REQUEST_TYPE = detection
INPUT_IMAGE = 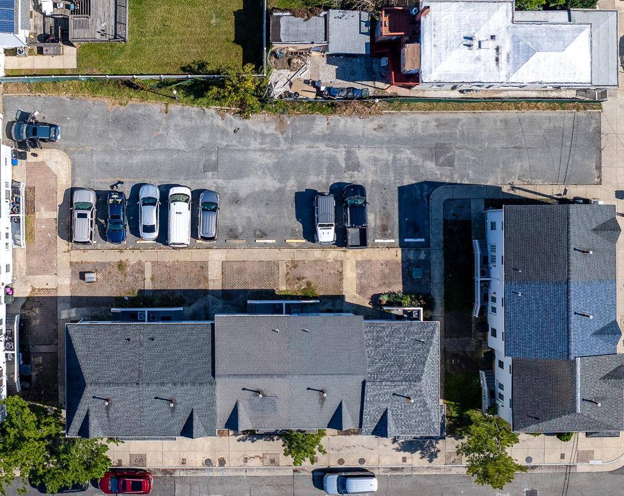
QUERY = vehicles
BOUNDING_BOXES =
[104,190,130,246]
[69,189,97,243]
[9,110,65,153]
[100,468,154,496]
[323,469,378,496]
[165,185,193,249]
[137,185,162,240]
[194,189,221,243]
[312,194,338,244]
[343,182,370,249]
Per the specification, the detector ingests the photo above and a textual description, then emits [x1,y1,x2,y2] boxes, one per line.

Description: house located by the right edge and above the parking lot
[410,1,618,98]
